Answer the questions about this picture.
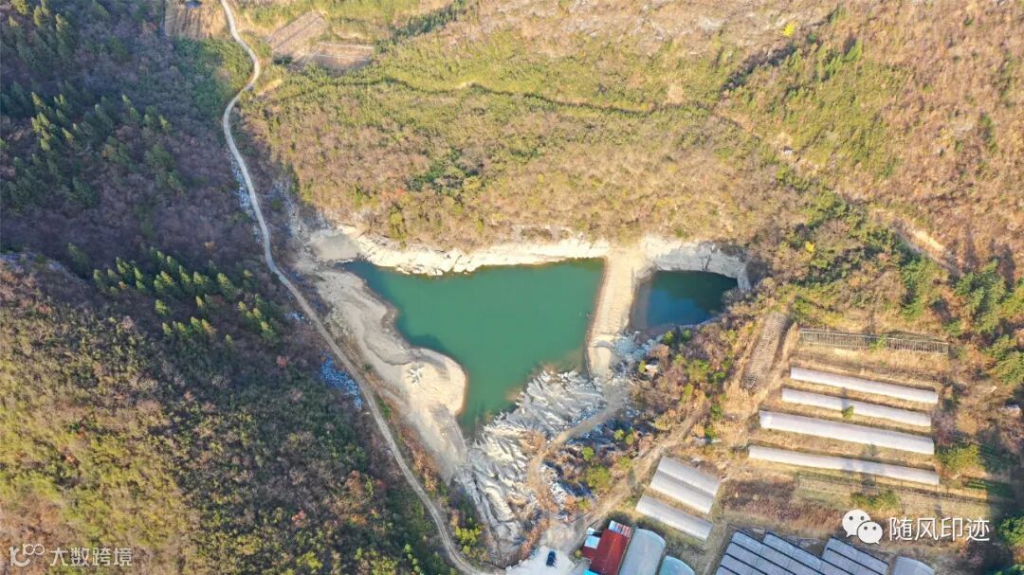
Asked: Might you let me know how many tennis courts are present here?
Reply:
0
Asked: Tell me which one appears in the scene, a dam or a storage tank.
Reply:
dam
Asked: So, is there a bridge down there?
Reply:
No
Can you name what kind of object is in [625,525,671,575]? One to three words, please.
greenhouse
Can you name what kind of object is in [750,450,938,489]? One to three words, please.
greenhouse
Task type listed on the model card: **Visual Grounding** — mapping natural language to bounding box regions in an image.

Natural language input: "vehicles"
[546,550,558,568]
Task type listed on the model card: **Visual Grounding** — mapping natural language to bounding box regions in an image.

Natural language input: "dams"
[589,237,644,376]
